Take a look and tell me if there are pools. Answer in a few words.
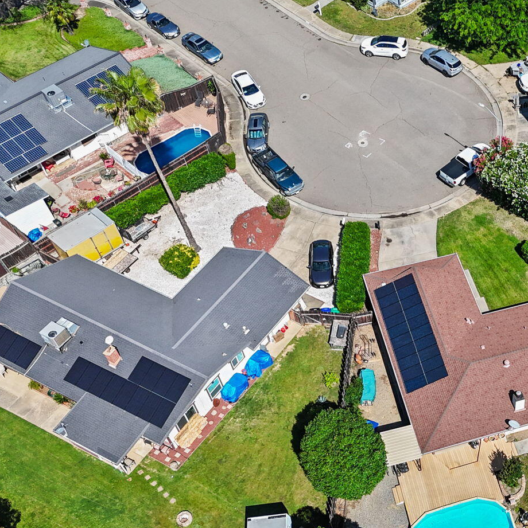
Yes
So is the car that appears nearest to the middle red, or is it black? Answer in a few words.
black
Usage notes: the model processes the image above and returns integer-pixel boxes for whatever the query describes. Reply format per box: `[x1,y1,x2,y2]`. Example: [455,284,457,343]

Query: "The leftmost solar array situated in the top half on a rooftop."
[0,112,46,162]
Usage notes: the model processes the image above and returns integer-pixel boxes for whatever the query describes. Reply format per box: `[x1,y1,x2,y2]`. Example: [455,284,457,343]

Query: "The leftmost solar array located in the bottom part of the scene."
[0,326,41,368]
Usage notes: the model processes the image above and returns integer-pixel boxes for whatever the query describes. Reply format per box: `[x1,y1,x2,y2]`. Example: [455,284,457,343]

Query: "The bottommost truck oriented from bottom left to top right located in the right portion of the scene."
[436,141,490,186]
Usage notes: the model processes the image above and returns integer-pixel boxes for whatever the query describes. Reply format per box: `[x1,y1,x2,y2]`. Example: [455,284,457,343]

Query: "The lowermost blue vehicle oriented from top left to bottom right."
[254,146,304,193]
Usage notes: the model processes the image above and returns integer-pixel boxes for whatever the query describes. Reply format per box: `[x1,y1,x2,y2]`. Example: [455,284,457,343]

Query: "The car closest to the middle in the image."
[306,240,335,290]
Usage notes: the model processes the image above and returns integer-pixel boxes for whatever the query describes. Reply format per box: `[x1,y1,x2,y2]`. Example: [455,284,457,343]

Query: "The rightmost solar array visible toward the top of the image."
[76,64,131,107]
